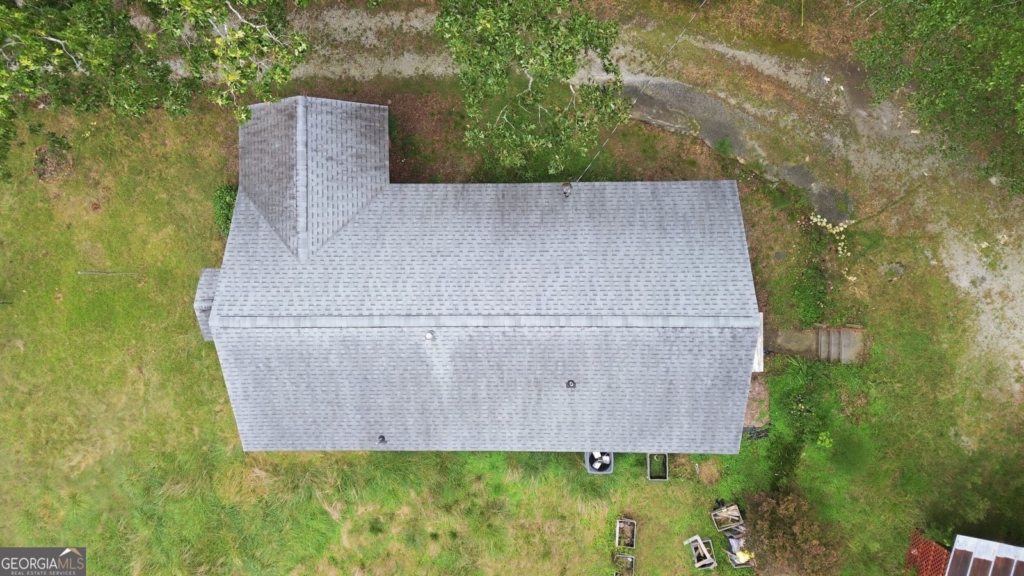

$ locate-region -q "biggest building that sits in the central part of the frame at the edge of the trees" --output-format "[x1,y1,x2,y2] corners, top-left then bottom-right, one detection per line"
[194,94,764,455]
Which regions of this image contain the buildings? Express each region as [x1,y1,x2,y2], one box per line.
[194,94,764,455]
[943,532,1024,576]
